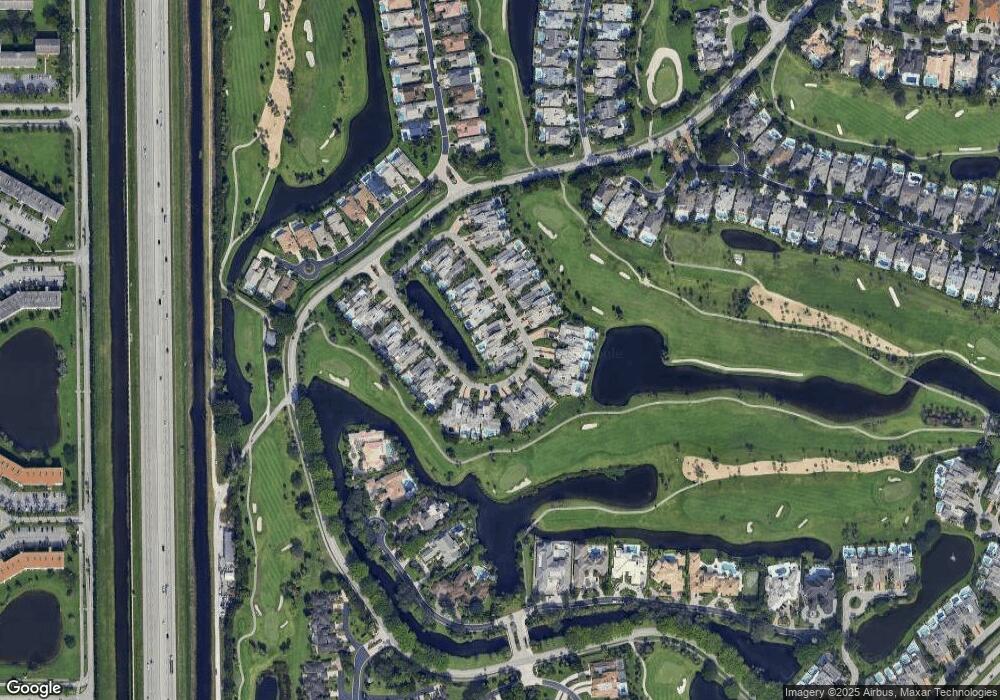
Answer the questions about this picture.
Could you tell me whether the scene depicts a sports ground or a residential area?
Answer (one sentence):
What you see here is a residential area.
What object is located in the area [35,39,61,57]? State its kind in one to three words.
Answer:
building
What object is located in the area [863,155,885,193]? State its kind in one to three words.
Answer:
house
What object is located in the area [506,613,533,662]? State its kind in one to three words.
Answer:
bridge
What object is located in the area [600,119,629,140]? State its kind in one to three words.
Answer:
house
